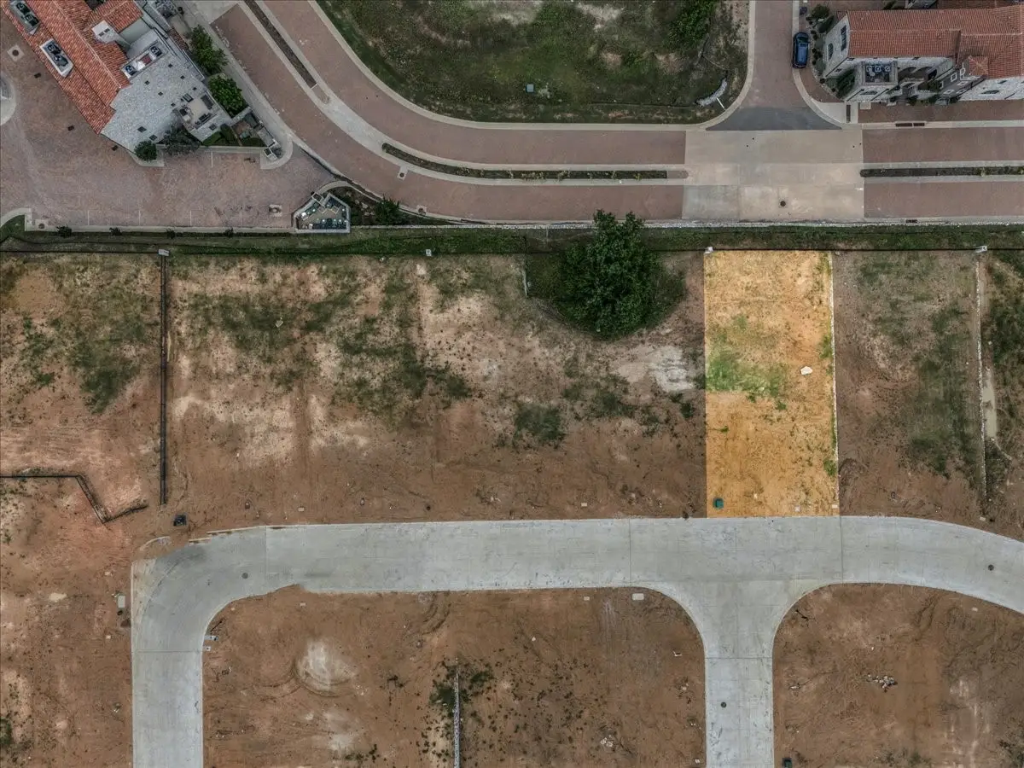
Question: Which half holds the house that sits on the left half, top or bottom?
top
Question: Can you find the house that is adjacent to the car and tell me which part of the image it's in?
top right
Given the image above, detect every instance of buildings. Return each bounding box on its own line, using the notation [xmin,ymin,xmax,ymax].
[0,0,240,159]
[826,4,1024,100]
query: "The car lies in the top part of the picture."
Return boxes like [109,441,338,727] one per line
[793,29,812,66]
